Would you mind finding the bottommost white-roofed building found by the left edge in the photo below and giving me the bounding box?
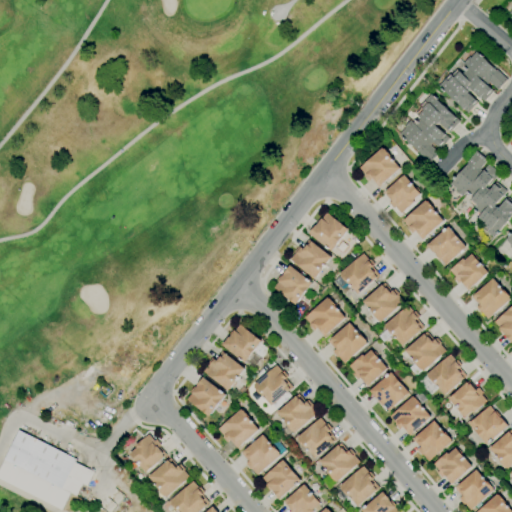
[0,430,94,511]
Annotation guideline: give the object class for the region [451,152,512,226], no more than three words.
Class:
building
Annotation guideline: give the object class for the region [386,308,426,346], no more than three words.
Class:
house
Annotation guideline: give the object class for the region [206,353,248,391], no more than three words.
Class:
house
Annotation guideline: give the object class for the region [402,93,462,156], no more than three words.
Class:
building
